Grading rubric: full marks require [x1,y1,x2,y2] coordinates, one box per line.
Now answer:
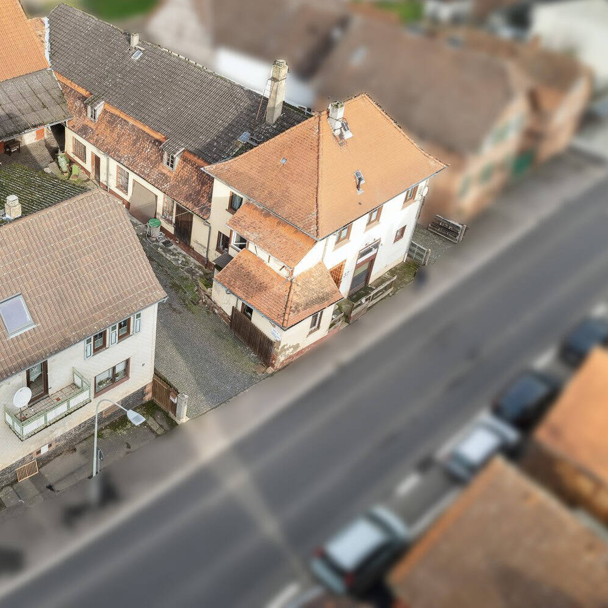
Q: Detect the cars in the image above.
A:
[320,507,413,597]
[562,317,608,365]
[441,419,521,487]
[500,363,572,425]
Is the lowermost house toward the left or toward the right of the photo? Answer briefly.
right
